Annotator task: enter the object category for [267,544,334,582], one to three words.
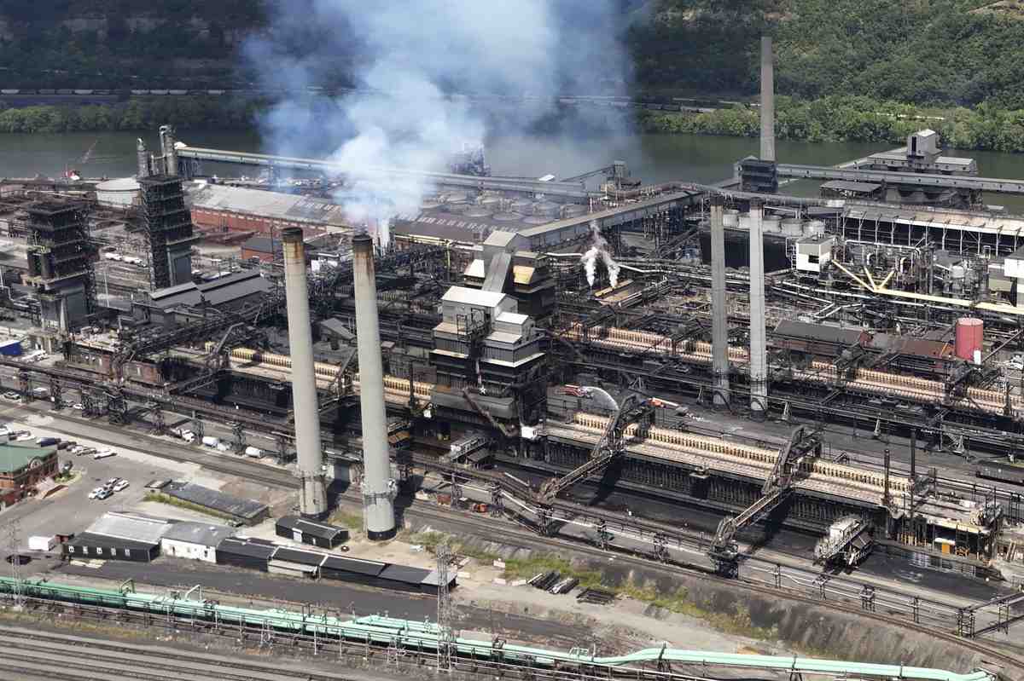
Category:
shed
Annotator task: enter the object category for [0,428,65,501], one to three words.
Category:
building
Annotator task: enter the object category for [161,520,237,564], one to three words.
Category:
shed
